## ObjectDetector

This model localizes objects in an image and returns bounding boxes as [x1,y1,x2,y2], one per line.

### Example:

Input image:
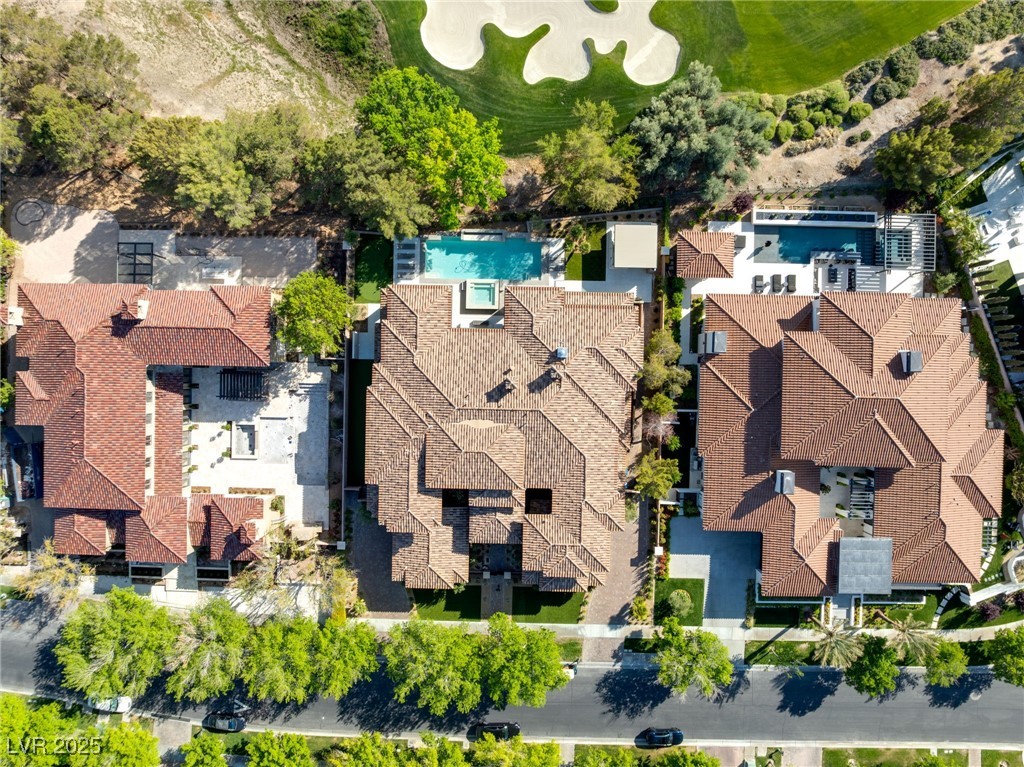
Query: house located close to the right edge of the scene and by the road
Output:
[691,291,1005,598]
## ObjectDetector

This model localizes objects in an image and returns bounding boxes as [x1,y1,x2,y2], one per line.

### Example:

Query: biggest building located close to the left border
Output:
[8,283,286,564]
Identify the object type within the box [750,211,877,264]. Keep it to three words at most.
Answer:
swimming pool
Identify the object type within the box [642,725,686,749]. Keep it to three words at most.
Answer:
car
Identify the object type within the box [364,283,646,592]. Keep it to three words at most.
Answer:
house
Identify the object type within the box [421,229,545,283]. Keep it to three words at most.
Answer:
swimming pool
